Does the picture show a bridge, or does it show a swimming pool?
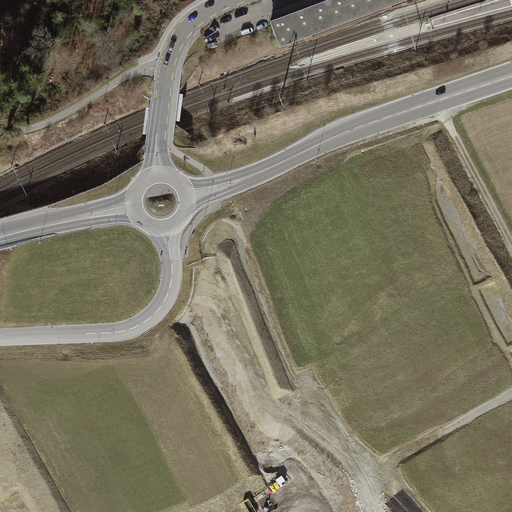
bridge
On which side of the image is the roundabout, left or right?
left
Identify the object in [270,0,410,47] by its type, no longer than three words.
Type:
building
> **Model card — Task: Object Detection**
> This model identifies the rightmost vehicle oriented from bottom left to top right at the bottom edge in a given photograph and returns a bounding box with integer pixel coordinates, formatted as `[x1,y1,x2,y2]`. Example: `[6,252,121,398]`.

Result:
[256,478,286,512]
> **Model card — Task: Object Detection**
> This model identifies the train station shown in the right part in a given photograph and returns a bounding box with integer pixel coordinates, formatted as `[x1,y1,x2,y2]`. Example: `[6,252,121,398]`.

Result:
[289,0,512,68]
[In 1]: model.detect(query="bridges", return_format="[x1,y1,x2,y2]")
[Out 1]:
[144,68,190,157]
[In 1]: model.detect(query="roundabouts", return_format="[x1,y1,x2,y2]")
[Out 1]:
[88,146,231,260]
